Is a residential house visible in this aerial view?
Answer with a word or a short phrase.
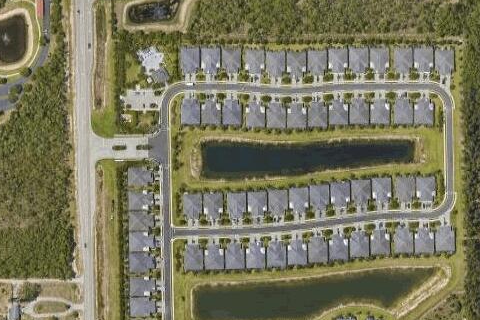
Yes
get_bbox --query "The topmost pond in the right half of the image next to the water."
[201,139,416,179]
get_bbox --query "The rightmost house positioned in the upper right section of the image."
[436,50,455,75]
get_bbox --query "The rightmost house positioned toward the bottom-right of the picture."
[436,227,455,253]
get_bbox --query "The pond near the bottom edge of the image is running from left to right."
[193,267,439,320]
